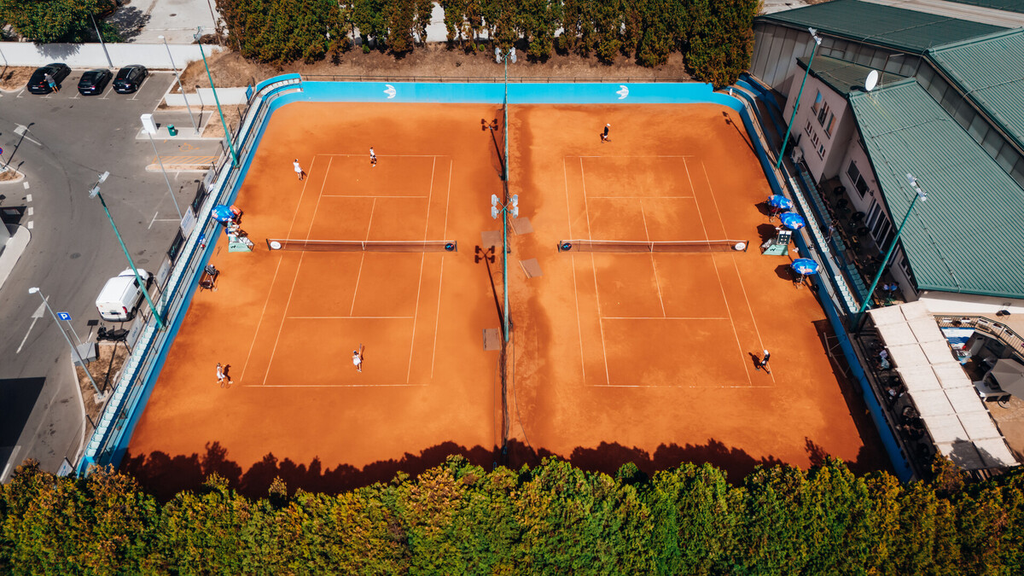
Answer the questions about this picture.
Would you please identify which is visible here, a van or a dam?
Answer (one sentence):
Of the two, only a van appears.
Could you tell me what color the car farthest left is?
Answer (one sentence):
The color of the car farthest left is black.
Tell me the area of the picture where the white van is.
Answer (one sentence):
The white van is in the left part of the image.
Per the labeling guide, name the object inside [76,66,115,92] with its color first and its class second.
black car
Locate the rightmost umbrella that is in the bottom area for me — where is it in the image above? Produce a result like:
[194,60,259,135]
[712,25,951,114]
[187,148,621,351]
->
[992,355,1024,411]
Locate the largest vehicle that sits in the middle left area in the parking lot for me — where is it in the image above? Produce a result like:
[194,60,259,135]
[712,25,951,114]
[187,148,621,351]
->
[94,259,154,313]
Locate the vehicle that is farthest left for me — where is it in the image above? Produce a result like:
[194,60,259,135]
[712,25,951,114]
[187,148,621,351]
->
[25,63,68,92]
